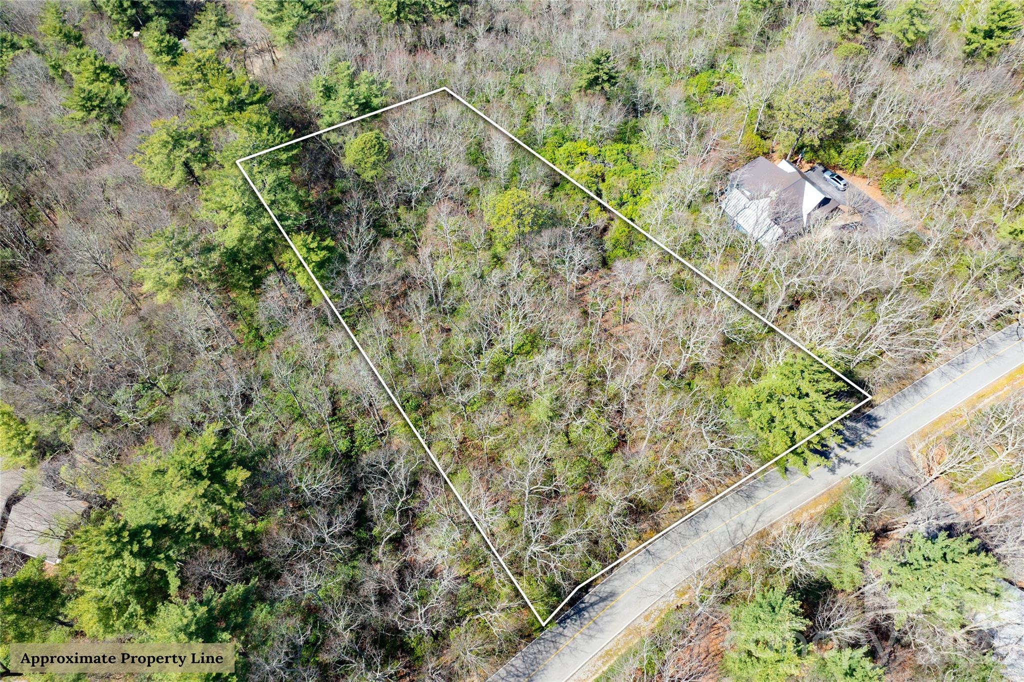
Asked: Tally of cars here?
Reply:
1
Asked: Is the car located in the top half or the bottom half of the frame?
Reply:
top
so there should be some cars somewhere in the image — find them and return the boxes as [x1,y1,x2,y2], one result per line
[822,171,851,192]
